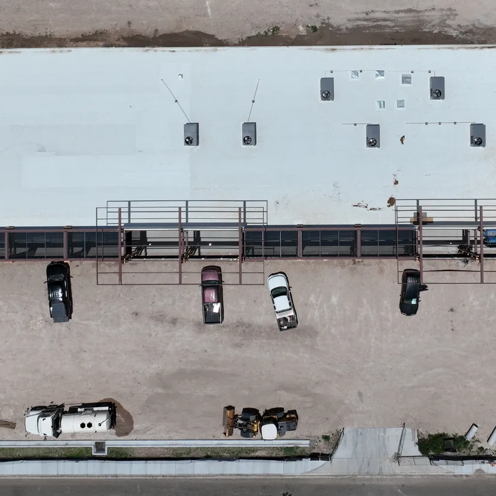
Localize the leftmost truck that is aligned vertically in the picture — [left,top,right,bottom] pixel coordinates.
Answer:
[43,261,73,323]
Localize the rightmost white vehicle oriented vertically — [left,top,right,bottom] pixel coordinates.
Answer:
[266,269,299,334]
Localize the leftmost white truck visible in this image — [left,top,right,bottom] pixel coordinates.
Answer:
[25,404,118,439]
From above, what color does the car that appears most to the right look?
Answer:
black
